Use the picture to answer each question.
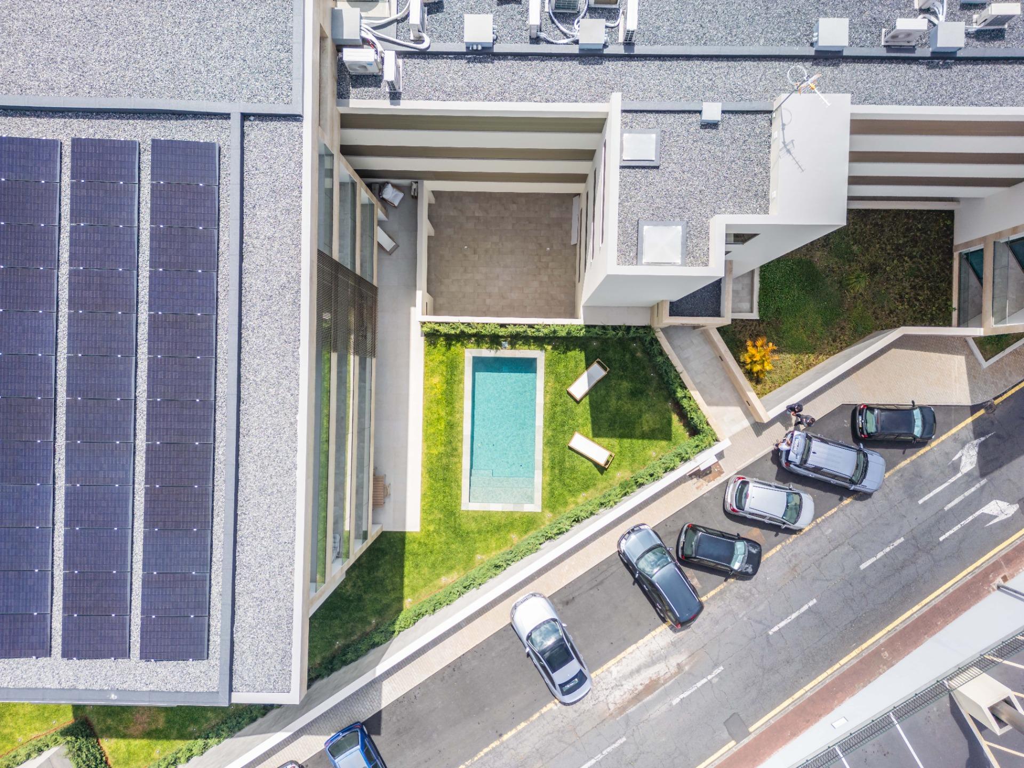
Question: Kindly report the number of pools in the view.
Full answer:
Only 1 pool is visible.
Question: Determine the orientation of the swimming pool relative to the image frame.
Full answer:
I'd say the swimming pool is aligned up and down in the picture.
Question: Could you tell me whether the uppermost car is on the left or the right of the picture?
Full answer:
You can find the uppermost car on the right side of the picture.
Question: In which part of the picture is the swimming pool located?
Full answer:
You can find the swimming pool in the center area of the picture.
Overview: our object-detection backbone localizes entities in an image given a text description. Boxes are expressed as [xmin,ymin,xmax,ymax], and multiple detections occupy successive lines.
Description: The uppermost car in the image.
[850,401,933,447]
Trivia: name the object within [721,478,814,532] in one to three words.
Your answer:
car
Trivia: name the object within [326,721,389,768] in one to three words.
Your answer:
car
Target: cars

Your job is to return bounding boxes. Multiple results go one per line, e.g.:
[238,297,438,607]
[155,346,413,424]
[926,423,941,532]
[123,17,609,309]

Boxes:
[850,401,933,447]
[783,431,882,496]
[511,588,593,705]
[721,478,814,532]
[674,524,761,581]
[326,721,389,768]
[618,521,709,630]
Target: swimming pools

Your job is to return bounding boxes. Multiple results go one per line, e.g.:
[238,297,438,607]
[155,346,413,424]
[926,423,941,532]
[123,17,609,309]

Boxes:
[461,349,545,512]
